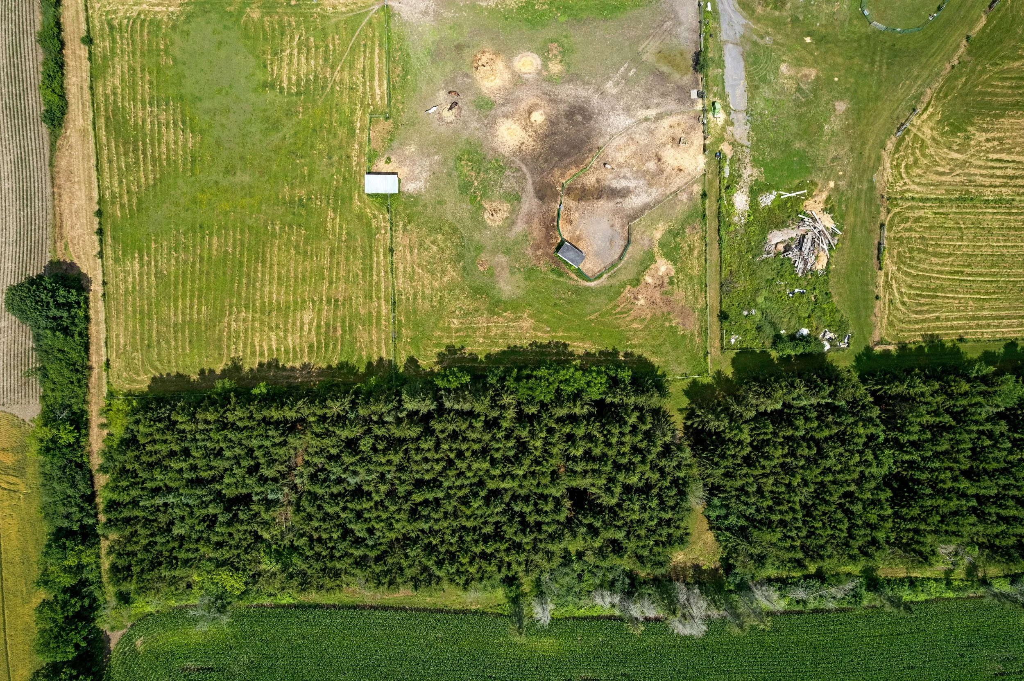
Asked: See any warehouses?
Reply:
No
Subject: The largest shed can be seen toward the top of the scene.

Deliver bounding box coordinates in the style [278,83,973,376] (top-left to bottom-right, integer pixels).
[365,174,399,195]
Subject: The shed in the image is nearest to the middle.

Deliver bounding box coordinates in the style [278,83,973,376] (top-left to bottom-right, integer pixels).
[556,241,586,269]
